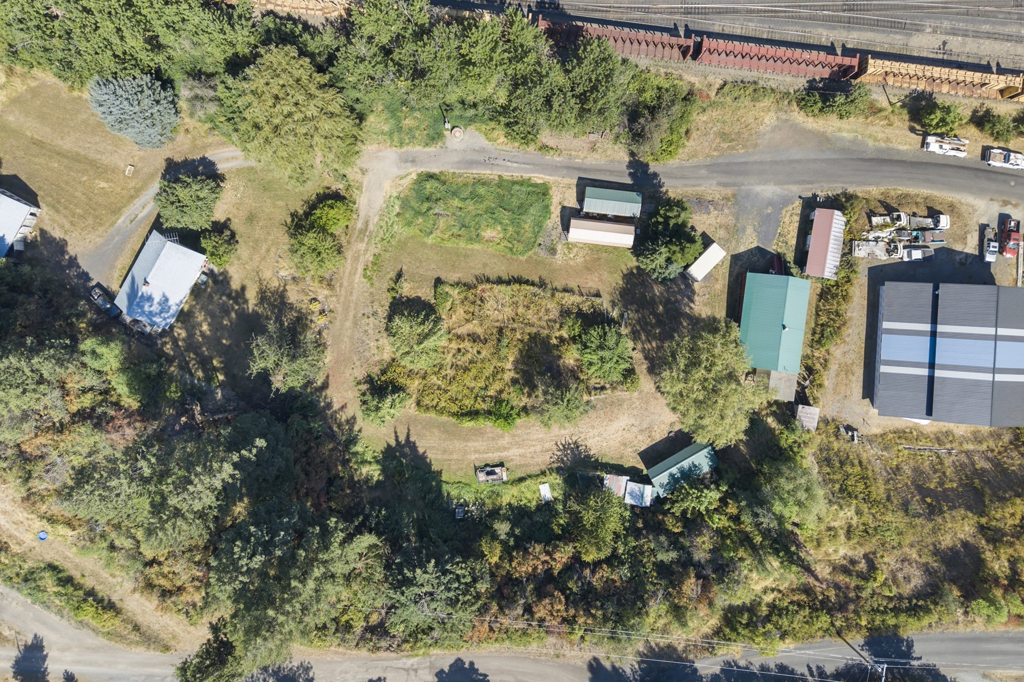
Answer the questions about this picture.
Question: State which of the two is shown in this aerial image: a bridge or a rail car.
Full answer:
Looking from above, you can make out a rail car.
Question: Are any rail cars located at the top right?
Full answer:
Yes, there is a rail car at the top right.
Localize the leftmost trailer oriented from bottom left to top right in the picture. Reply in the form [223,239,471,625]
[683,243,725,282]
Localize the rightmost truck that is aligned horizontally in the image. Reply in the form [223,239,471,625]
[984,148,1024,172]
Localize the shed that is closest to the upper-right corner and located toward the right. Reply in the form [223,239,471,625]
[801,209,847,280]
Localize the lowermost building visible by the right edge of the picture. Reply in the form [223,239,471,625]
[869,284,1024,427]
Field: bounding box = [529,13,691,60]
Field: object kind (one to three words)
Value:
rail car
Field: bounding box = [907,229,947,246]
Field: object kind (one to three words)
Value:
vehicle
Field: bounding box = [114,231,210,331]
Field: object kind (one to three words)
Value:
house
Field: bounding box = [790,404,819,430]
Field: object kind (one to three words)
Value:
shed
